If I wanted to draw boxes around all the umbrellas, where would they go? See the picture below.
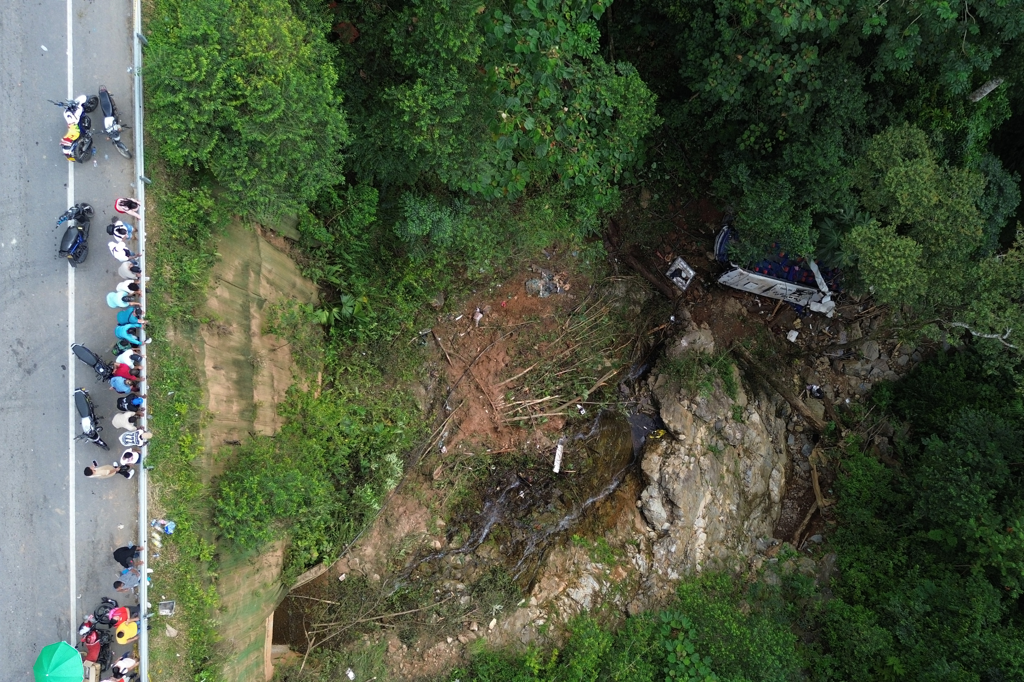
[32,639,86,682]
